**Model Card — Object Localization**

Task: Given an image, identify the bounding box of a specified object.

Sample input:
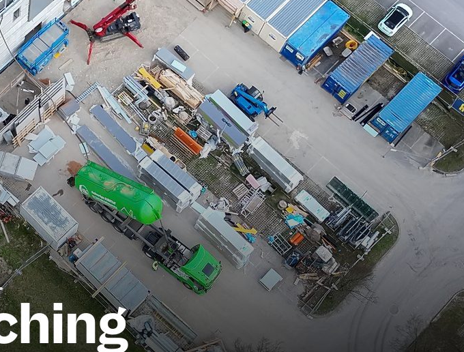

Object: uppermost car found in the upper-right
[378,0,416,38]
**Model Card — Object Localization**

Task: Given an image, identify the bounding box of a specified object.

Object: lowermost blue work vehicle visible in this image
[227,79,284,128]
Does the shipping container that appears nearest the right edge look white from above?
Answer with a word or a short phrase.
No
